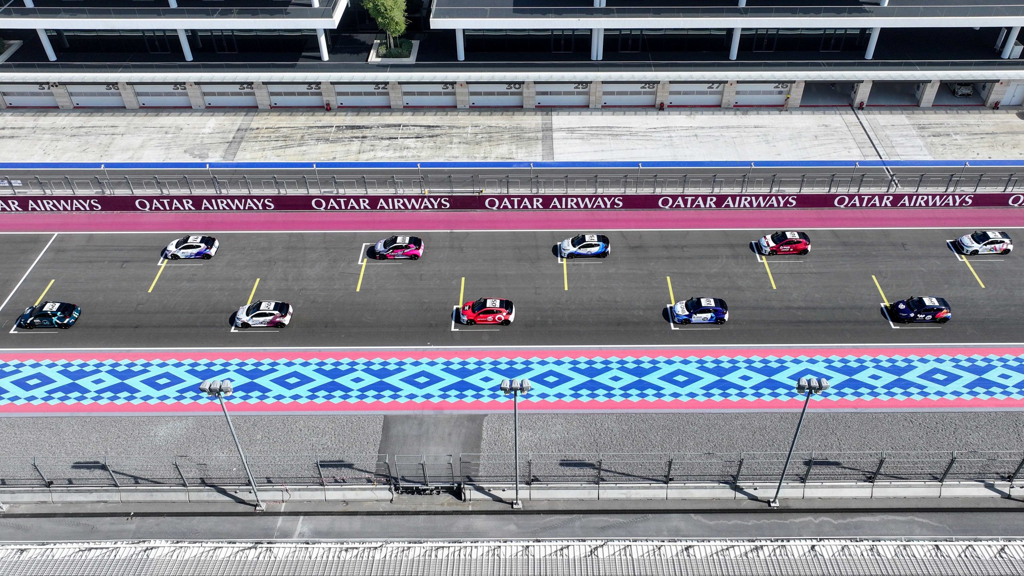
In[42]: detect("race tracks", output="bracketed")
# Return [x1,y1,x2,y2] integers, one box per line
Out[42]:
[0,229,1024,350]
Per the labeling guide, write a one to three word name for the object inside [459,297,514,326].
car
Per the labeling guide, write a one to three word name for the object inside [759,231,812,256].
car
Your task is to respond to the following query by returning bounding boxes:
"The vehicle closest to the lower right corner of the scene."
[891,295,953,324]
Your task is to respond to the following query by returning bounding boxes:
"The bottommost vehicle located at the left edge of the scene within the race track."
[19,300,81,329]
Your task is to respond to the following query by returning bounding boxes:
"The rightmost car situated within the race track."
[958,230,1015,255]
